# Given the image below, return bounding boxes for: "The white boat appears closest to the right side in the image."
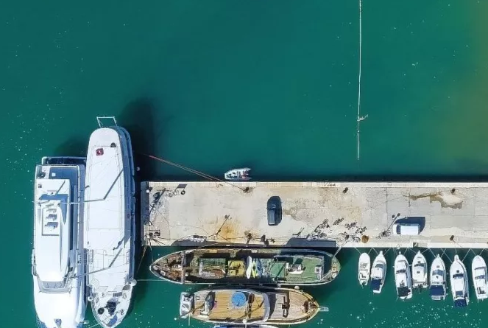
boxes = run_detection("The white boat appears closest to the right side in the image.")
[471,248,488,299]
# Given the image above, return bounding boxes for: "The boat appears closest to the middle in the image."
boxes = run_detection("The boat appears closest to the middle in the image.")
[225,167,255,180]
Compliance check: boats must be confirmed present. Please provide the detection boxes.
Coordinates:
[471,248,488,299]
[181,292,192,321]
[148,237,343,285]
[429,249,448,303]
[30,152,88,328]
[445,249,470,308]
[369,248,386,296]
[180,238,343,327]
[411,248,428,291]
[358,248,370,289]
[393,248,413,301]
[225,167,255,180]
